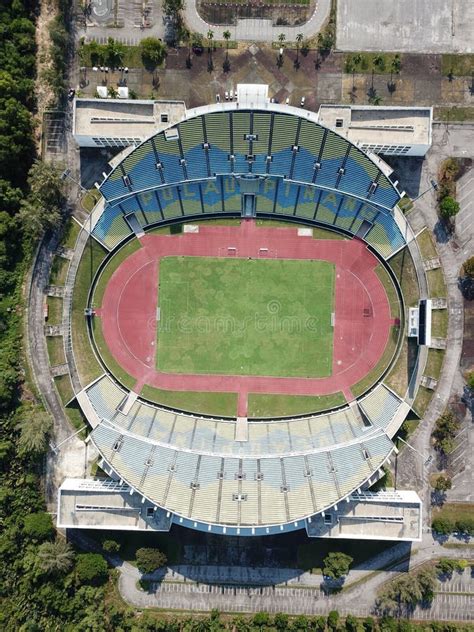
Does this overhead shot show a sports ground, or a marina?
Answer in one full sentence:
The area seen from above is a sports ground.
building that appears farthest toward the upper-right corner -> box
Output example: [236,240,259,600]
[317,104,433,153]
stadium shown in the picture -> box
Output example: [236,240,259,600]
[45,83,447,533]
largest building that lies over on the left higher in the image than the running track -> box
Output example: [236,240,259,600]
[72,98,188,144]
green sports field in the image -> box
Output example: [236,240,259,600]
[155,256,336,380]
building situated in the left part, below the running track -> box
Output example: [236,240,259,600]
[60,483,176,531]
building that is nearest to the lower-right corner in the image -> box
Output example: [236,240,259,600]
[305,491,422,539]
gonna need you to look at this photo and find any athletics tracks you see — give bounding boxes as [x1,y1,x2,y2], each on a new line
[96,216,396,415]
